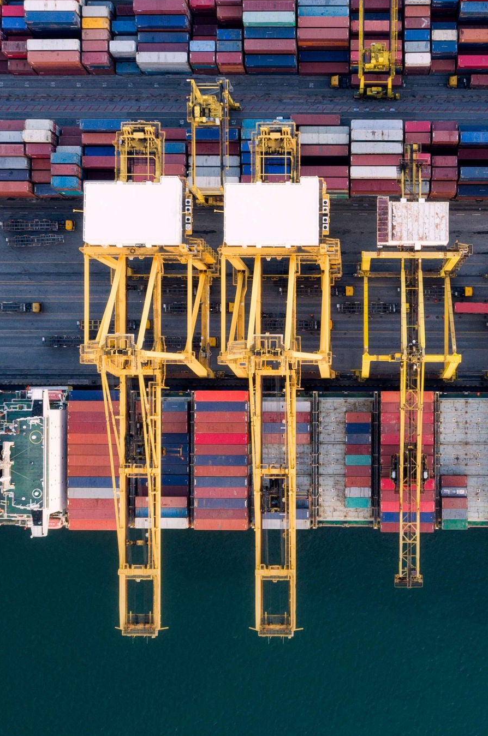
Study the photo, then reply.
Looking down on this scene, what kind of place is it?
port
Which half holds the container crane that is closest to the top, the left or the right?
right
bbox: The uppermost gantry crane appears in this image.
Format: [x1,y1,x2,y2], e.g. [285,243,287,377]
[353,0,401,98]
